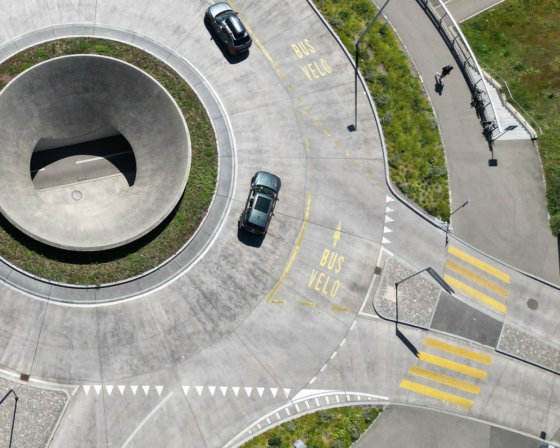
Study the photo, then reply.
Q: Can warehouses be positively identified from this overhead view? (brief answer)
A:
No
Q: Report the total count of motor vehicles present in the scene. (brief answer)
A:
two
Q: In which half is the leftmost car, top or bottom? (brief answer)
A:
top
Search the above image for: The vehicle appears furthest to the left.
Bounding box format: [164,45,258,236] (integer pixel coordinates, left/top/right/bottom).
[208,3,251,54]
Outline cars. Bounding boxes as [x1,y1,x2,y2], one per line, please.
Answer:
[240,173,279,234]
[208,3,251,54]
